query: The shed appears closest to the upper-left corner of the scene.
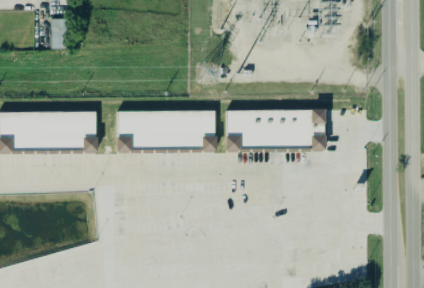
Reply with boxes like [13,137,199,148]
[51,19,66,49]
